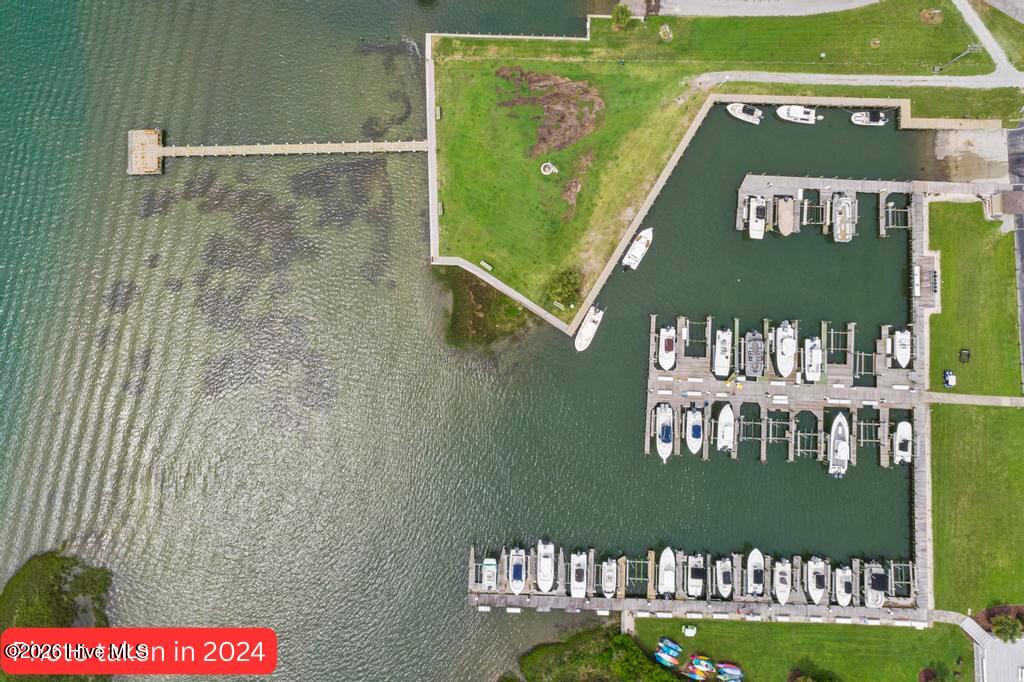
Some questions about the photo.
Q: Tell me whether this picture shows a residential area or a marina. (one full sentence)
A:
The area seen from above is a marina.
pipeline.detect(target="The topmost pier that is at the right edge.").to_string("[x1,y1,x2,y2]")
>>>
[732,173,1010,239]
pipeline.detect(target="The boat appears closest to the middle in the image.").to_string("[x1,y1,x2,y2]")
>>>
[576,301,606,350]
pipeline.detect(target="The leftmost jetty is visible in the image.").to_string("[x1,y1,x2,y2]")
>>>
[124,126,428,178]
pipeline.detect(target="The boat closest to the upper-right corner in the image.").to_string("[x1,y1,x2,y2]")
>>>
[847,112,890,125]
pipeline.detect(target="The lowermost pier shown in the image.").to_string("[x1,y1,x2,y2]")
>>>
[469,543,928,625]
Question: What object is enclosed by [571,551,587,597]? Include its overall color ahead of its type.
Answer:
white boat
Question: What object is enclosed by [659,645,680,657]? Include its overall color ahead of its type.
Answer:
blue boat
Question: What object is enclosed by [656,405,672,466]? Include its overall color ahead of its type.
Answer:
white boat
